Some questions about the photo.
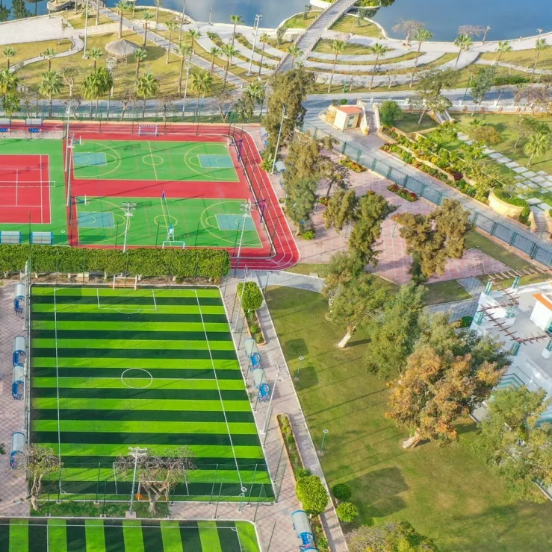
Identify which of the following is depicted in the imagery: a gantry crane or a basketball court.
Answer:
basketball court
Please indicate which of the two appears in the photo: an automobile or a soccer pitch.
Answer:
soccer pitch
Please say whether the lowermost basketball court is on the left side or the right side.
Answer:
left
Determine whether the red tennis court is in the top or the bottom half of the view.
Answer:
top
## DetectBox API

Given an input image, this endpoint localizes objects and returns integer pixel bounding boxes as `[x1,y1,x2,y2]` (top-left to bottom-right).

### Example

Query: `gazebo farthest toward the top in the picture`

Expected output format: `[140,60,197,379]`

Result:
[105,37,142,64]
